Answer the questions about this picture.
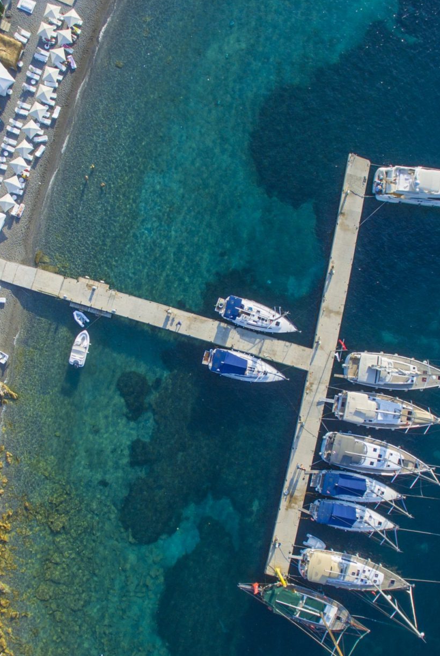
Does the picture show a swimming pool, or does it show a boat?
boat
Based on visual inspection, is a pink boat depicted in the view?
No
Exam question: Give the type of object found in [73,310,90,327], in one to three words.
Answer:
boat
